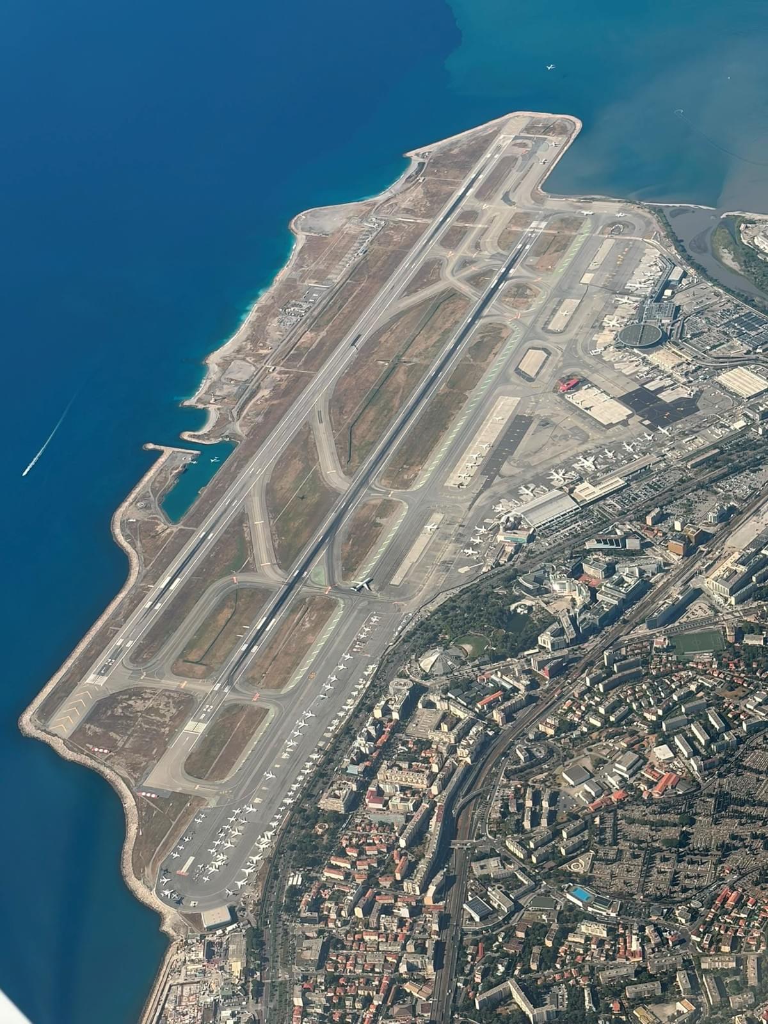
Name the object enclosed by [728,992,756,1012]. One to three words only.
building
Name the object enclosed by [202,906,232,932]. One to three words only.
hangar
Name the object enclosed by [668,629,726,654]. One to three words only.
soccer field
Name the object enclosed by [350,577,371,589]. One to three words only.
airplane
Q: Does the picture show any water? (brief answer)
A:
Yes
